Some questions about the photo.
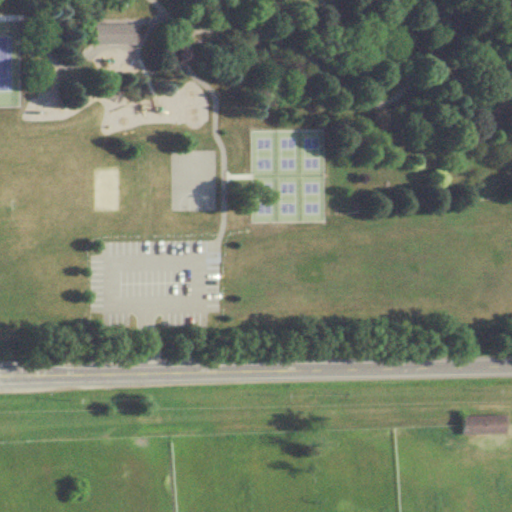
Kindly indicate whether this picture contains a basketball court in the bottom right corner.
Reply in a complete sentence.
No, the scene shows no basketball court in the bottom right corner.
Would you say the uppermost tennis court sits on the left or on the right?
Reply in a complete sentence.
You can find the uppermost tennis court on the left side of the picture.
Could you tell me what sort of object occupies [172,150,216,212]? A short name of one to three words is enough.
basketball court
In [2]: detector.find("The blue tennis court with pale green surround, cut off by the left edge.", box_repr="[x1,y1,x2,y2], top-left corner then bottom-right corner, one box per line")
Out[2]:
[0,26,22,108]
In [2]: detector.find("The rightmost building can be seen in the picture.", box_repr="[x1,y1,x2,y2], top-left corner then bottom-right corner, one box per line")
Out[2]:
[466,415,508,435]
